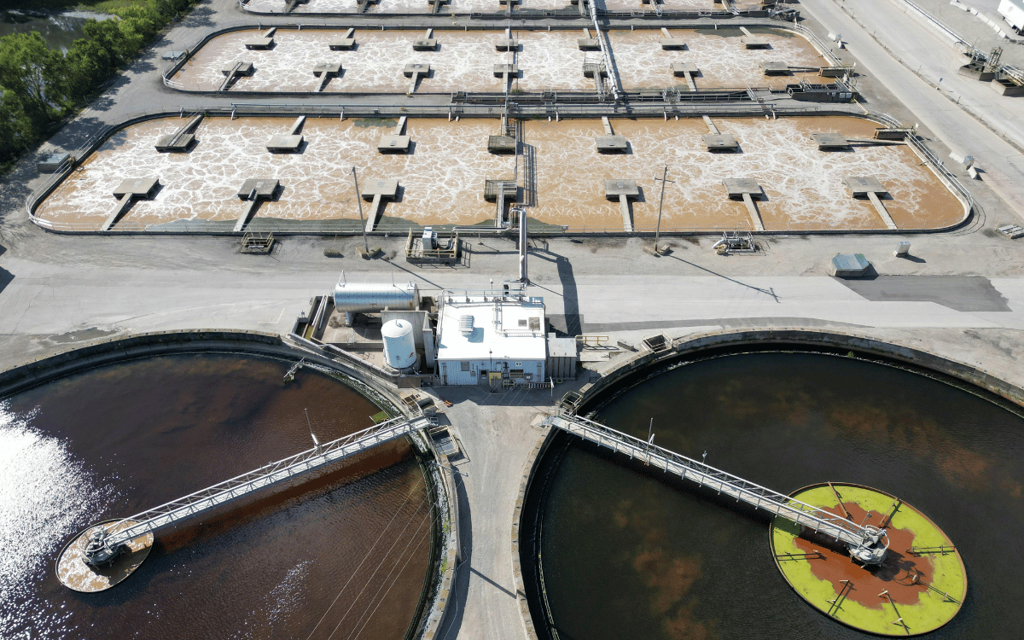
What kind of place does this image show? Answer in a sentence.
It's an industrial area.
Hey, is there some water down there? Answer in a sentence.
Yes, water shows up in the scene.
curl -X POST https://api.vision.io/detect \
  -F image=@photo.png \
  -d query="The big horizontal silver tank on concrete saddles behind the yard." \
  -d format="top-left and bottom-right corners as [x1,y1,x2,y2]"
[333,269,447,324]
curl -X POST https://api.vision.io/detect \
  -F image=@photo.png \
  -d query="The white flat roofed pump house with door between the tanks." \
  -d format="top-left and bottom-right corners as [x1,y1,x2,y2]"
[434,292,547,386]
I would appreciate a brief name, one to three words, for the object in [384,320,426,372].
storage tank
